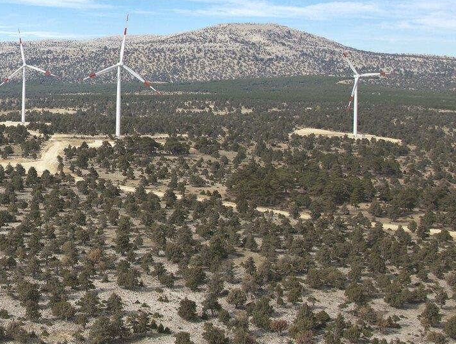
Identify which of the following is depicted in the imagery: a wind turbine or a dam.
wind turbine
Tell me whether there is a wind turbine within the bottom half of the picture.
No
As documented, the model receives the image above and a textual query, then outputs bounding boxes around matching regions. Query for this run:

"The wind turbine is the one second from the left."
[80,18,157,138]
